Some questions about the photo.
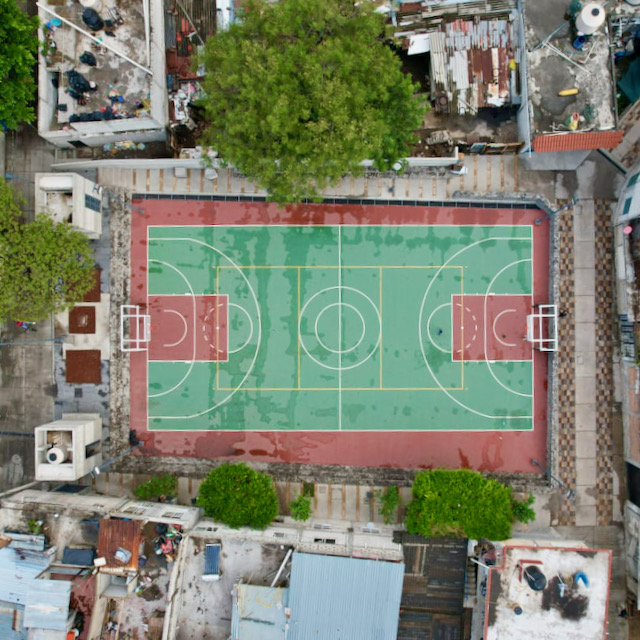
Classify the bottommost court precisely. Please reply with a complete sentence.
Specifically, the bottommost court is a basketball court.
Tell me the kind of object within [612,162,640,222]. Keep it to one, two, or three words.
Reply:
house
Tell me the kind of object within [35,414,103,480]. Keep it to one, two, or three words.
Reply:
water tower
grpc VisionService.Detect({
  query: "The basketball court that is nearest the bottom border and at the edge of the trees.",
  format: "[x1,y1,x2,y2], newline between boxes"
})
[131,202,549,474]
